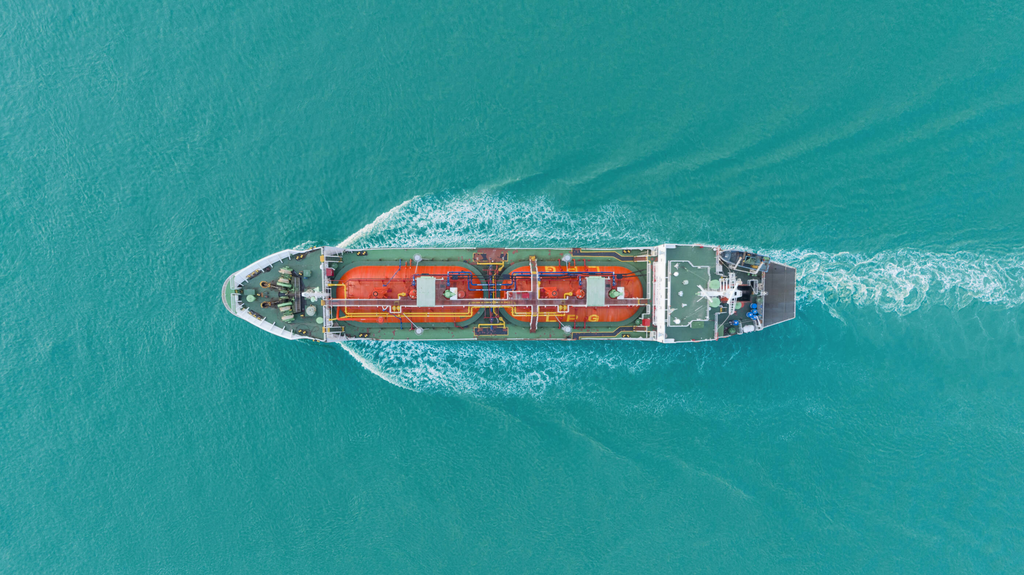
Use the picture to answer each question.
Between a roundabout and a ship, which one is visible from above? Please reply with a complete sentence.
I can see a ship in this picture.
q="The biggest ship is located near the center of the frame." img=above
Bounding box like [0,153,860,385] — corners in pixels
[222,244,797,344]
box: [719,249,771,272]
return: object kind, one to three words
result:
boat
